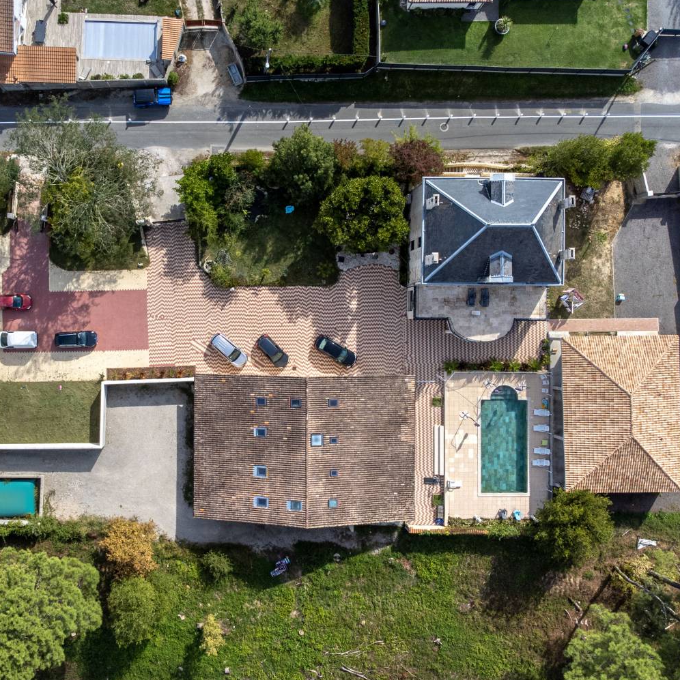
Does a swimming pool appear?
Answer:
Yes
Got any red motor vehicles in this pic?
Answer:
Yes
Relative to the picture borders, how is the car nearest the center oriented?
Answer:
at an angle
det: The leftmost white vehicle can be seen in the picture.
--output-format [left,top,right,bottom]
[0,330,39,352]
